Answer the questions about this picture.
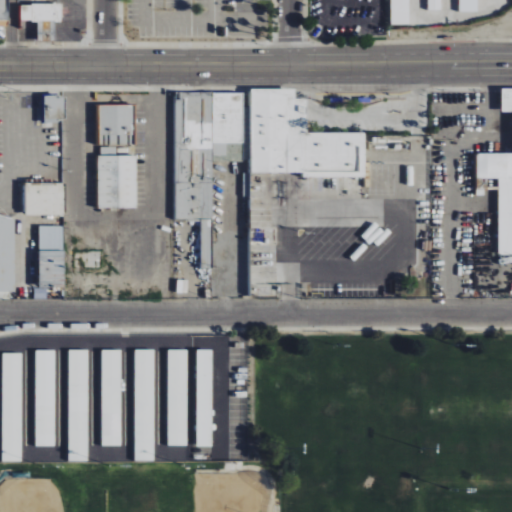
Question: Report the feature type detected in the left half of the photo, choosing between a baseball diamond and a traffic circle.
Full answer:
There is a baseball diamond in the left half of the photo.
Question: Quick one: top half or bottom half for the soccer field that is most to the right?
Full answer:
The bottom half of the photo is where the soccer field that is most to the right is.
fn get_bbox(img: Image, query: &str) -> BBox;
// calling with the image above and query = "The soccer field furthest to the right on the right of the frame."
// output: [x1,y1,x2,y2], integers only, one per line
[252,335,512,512]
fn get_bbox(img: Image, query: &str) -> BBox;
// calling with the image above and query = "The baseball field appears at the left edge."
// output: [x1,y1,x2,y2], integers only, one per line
[0,461,194,512]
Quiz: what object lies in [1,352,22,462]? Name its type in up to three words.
building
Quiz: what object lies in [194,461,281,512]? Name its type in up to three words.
baseball field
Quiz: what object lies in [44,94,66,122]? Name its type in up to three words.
building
